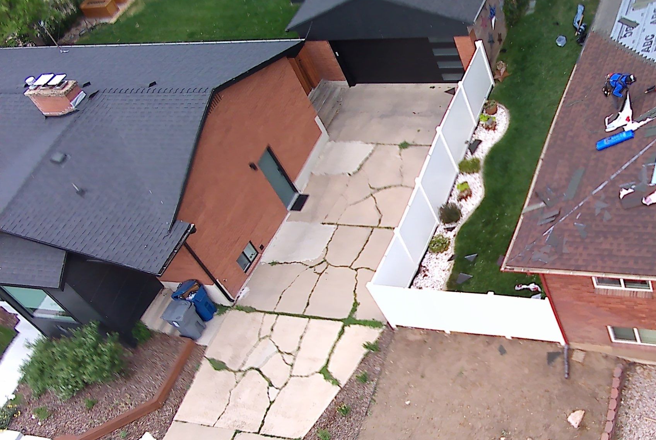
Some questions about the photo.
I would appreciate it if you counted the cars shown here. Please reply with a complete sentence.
The count of cars is 0.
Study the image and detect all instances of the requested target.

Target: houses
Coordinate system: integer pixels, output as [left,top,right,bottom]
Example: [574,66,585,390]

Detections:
[499,0,656,371]
[0,3,335,356]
